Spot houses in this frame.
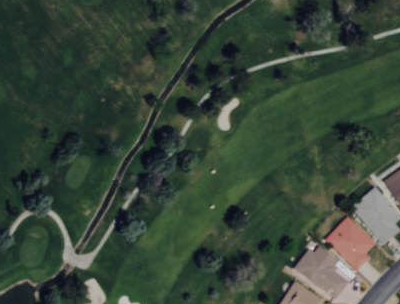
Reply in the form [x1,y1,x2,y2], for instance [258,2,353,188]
[294,249,346,303]
[325,216,375,270]
[382,169,400,209]
[354,188,400,244]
